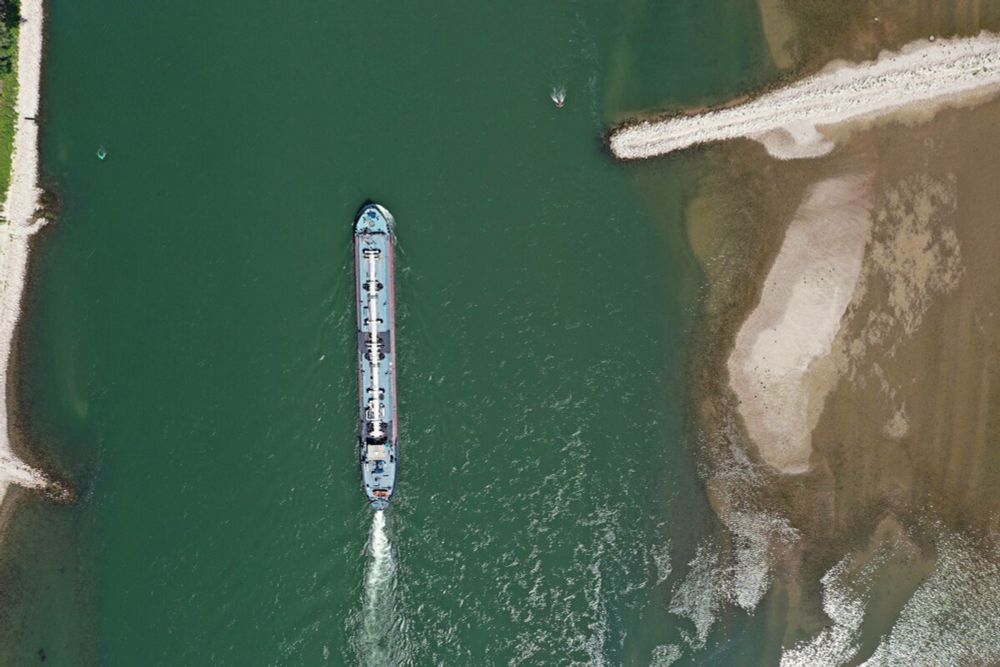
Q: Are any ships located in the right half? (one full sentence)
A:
No, I can find no ship in the right half.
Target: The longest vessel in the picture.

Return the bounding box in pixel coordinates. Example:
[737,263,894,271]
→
[354,204,397,509]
